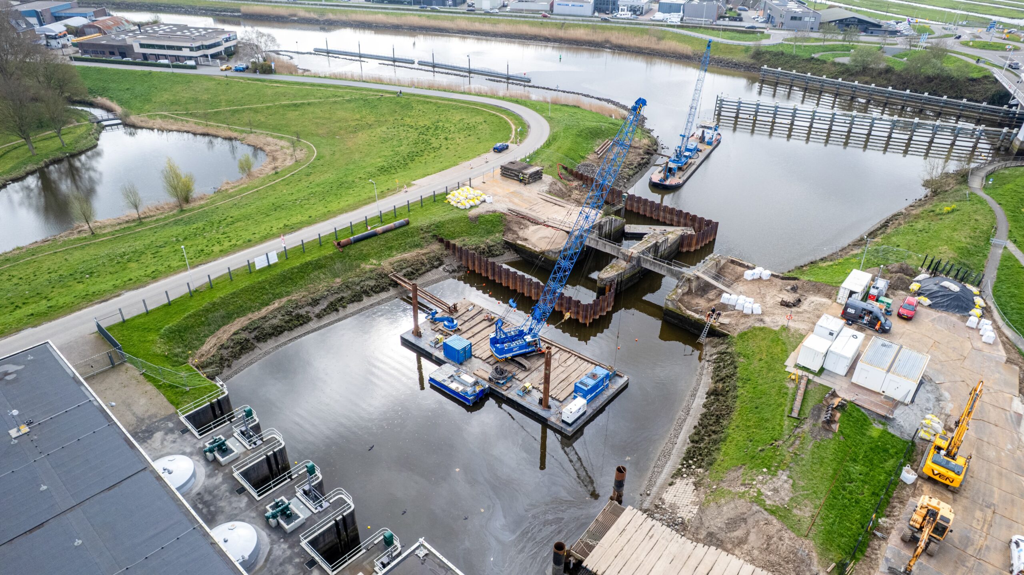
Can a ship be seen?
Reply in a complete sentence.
Yes, there's a ship here.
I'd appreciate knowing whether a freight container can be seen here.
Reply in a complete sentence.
Yes, there's a freight container here.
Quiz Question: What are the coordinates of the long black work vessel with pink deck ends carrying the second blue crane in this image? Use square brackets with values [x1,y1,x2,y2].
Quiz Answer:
[648,113,731,191]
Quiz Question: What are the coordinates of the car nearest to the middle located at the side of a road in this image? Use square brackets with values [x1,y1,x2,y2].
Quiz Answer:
[491,139,511,151]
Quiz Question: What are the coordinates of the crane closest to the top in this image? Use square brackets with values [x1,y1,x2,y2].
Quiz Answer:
[665,37,712,162]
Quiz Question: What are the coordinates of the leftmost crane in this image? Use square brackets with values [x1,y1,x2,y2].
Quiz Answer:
[483,95,654,370]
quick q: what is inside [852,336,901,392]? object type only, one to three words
building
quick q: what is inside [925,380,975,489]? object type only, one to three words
work vehicle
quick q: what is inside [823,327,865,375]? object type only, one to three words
shipping container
